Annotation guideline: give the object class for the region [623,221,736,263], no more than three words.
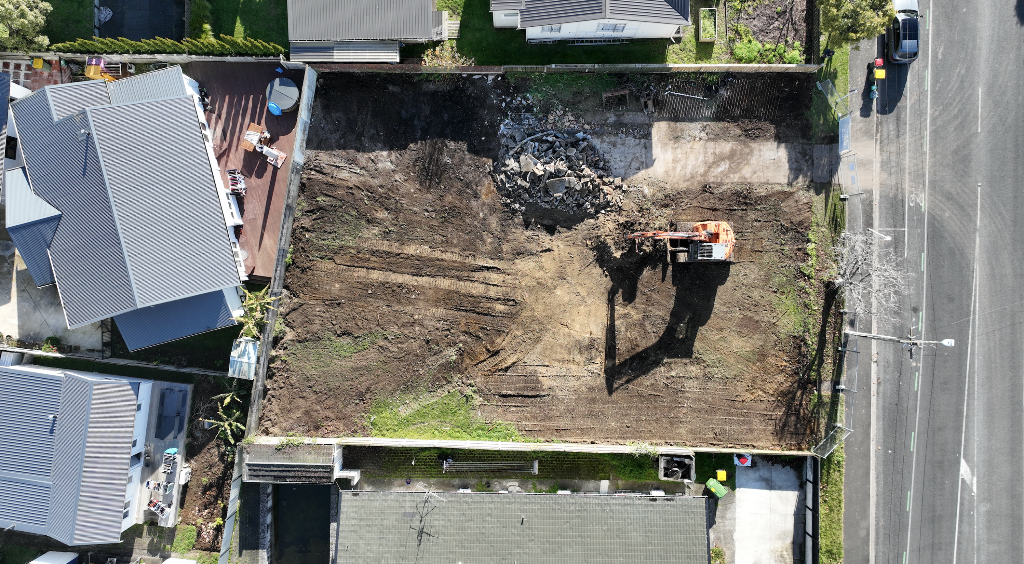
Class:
work vehicle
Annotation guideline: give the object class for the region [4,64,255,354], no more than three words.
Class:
house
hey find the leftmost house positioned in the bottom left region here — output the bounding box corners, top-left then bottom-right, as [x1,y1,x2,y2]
[0,359,157,548]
